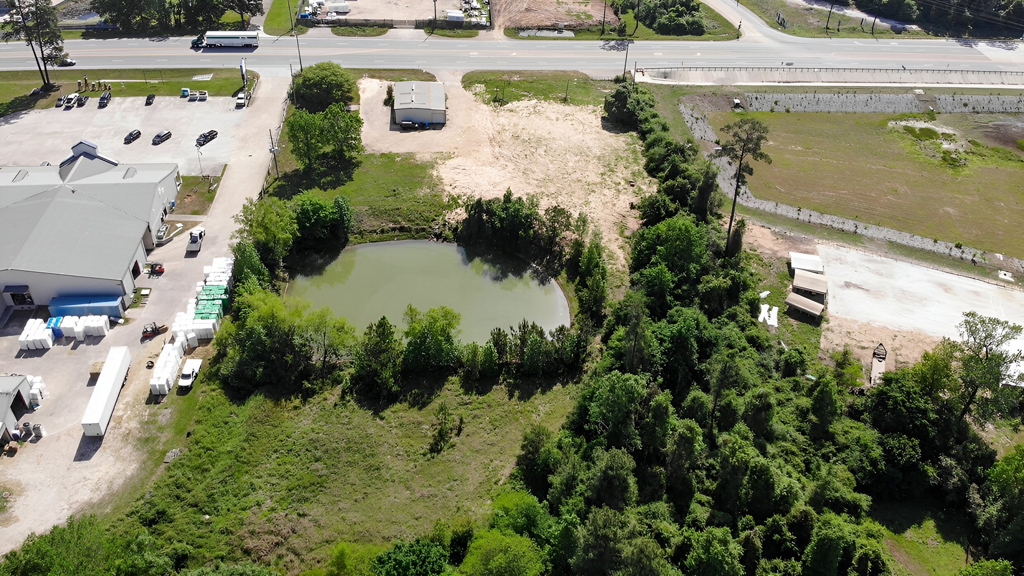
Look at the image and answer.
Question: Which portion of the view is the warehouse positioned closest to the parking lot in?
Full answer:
The warehouse positioned closest to the parking lot is located in the left region of the scene.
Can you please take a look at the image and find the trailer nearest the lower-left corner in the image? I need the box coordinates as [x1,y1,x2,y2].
[81,347,133,436]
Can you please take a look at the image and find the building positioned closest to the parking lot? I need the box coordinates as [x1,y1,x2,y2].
[0,138,176,323]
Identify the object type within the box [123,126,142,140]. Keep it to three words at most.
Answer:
car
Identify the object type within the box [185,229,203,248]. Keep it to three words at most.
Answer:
vehicle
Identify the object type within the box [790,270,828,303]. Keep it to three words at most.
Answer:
shed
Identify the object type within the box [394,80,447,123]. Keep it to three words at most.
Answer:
shed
